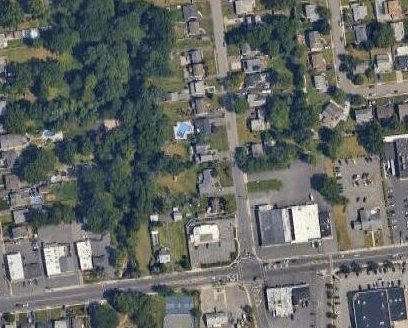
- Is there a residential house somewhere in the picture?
Yes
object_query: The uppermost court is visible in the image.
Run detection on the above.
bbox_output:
[166,295,195,314]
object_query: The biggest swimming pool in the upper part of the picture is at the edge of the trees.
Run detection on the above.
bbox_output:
[176,121,194,140]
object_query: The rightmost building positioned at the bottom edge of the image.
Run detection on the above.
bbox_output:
[355,286,407,328]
